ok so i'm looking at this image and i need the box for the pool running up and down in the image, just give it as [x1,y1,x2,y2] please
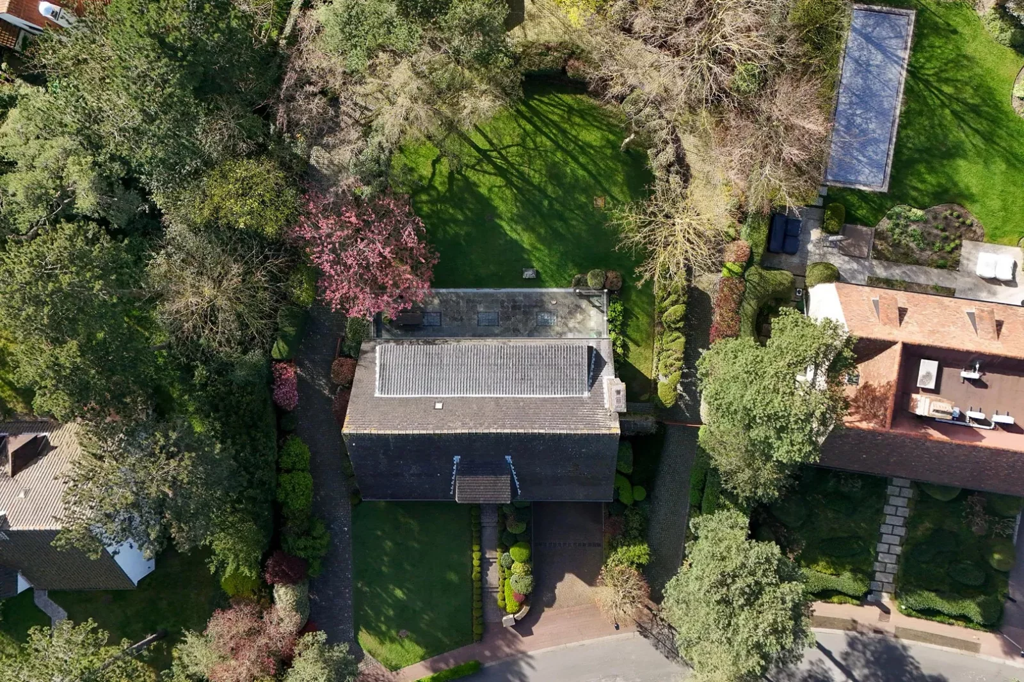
[823,5,915,192]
